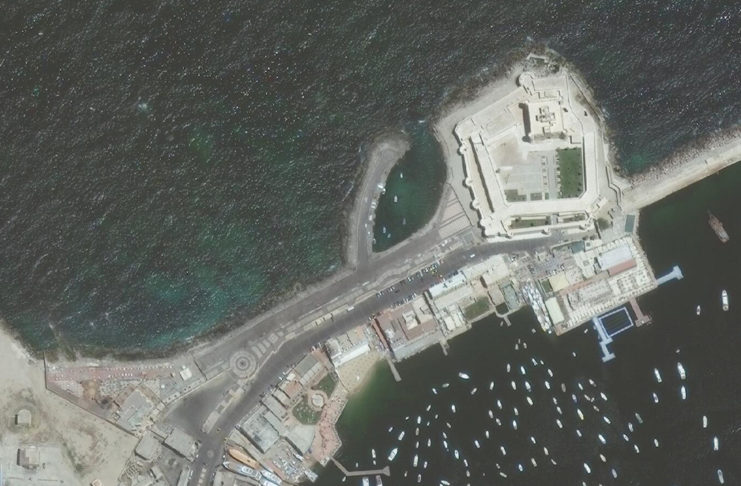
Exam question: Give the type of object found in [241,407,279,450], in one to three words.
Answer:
building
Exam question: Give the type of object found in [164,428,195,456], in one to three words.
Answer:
building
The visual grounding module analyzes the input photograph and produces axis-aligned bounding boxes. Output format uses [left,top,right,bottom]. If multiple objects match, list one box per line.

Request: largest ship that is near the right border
[709,209,730,242]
